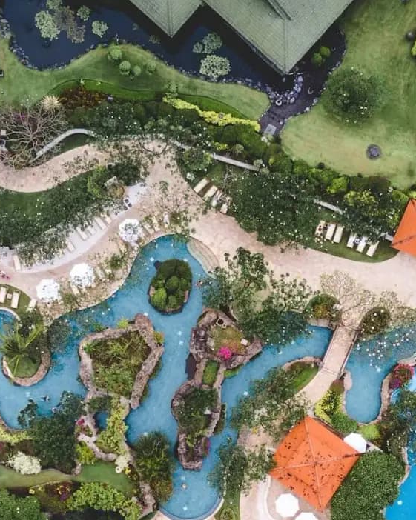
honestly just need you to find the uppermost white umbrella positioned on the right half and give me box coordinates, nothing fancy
[345,432,366,452]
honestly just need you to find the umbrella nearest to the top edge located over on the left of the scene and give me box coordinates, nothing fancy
[119,220,140,241]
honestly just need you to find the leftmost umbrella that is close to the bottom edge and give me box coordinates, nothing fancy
[276,495,299,517]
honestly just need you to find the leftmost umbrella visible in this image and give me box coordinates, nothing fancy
[37,279,59,302]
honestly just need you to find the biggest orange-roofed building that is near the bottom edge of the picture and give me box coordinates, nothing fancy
[269,417,362,512]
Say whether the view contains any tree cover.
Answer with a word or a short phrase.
Yes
